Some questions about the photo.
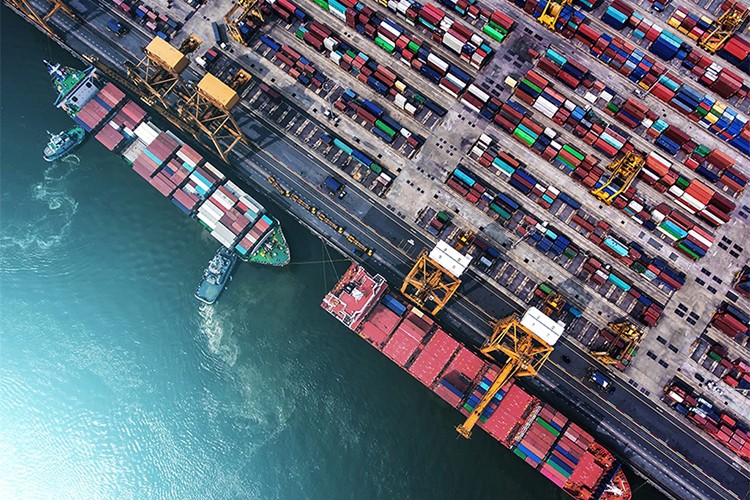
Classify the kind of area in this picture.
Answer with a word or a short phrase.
port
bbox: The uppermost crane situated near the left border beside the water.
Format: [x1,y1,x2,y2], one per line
[15,0,83,43]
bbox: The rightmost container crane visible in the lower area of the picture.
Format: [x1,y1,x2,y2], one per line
[590,316,655,371]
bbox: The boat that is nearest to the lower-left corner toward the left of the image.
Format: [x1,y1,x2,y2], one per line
[194,251,238,306]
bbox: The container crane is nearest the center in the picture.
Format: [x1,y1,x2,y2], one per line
[396,228,478,319]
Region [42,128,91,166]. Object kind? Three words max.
boat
